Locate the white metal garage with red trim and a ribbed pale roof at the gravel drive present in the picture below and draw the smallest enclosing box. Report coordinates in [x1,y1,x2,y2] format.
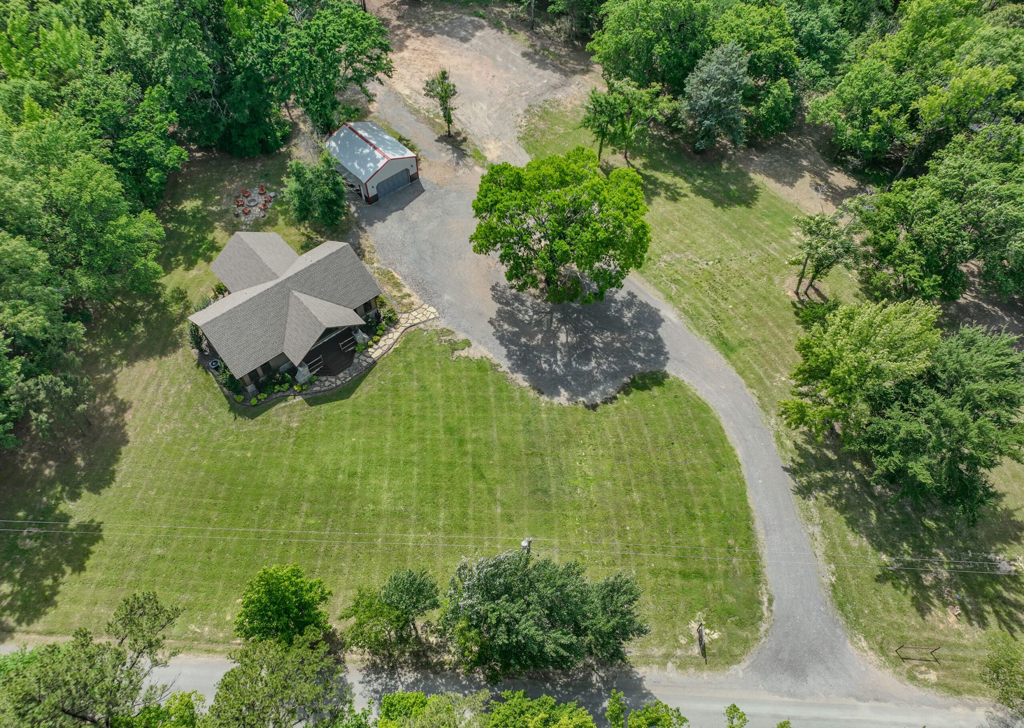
[322,119,421,206]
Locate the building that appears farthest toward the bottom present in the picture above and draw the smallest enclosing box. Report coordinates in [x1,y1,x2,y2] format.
[188,232,382,393]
